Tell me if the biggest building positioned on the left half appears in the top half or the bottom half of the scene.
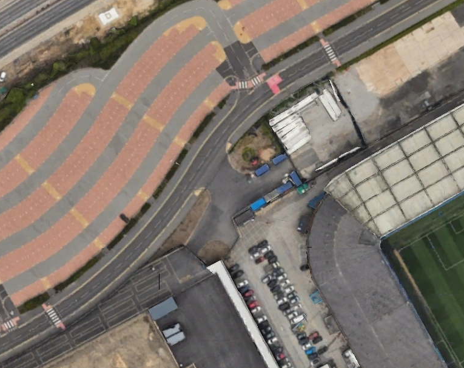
bottom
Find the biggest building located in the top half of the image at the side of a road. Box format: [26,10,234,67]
[270,93,320,157]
